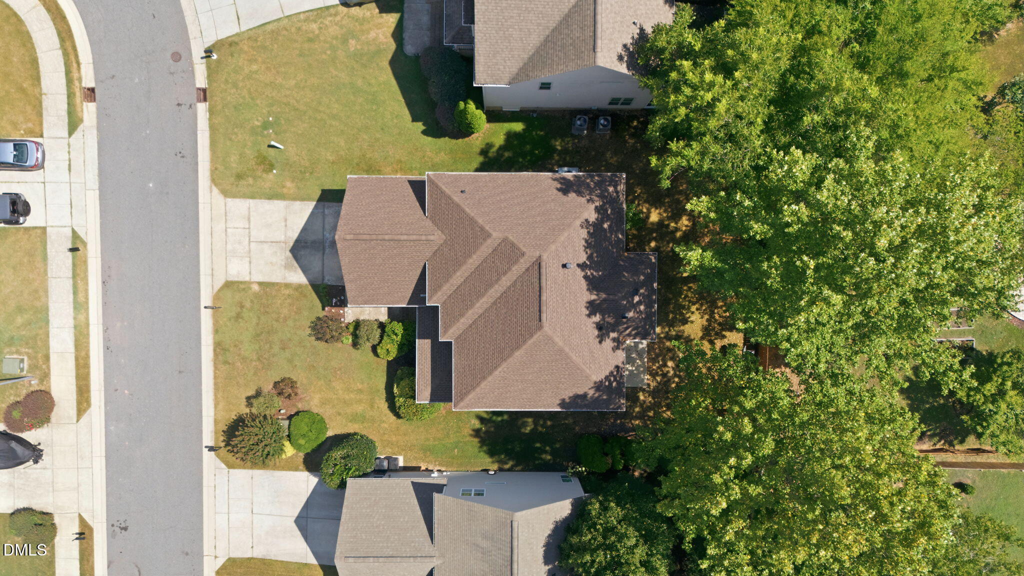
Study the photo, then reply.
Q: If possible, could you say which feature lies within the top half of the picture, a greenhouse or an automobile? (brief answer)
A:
automobile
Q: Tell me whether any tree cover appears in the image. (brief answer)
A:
Yes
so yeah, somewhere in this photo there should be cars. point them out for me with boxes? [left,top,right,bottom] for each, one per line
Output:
[0,140,45,171]
[0,194,30,224]
[348,0,372,6]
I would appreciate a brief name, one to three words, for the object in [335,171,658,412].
house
